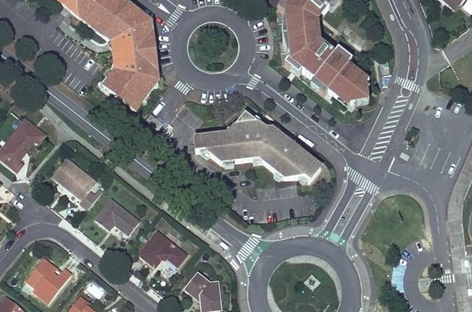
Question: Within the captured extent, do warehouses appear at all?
No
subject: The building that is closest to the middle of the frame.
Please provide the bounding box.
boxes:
[196,111,322,188]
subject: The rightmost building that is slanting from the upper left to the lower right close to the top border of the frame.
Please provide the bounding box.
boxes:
[278,0,369,115]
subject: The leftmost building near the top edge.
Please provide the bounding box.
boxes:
[54,0,160,116]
